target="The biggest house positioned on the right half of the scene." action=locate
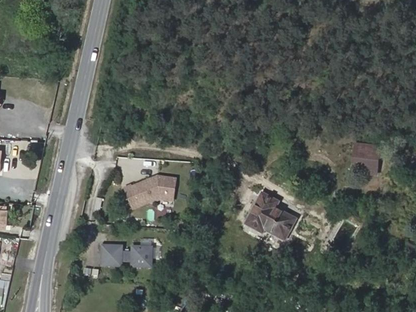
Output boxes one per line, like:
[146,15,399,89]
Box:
[241,186,302,252]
